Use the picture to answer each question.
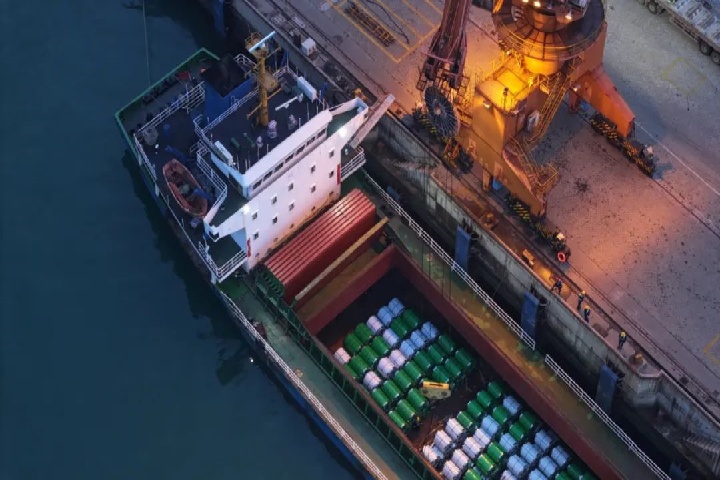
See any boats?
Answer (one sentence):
Yes, looking at the shot, I can spot a boat.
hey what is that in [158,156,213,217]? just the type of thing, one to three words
boat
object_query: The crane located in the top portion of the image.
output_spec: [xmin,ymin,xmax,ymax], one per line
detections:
[409,0,661,379]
